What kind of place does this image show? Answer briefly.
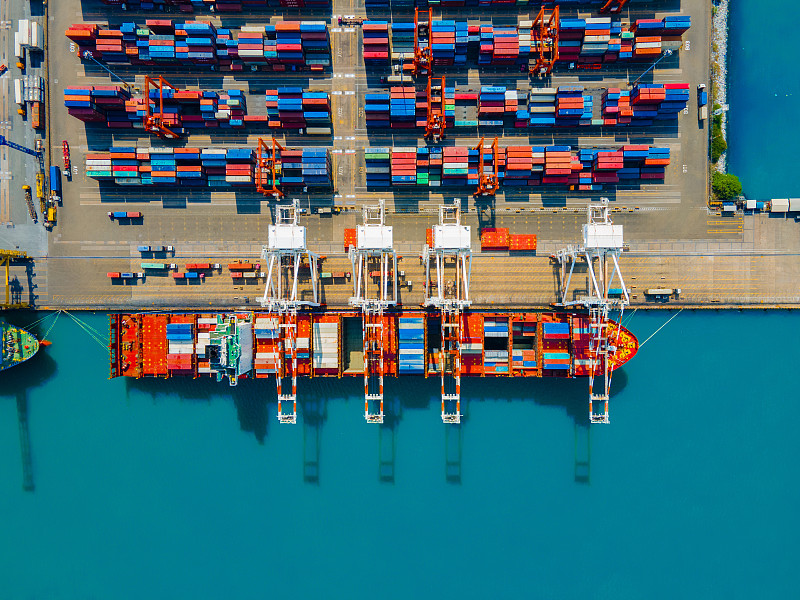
port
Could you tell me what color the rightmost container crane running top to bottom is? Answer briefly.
white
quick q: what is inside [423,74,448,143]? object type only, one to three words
crane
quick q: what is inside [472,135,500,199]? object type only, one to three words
crane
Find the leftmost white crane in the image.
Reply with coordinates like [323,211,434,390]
[255,199,323,423]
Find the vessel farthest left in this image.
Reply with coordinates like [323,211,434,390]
[0,320,52,371]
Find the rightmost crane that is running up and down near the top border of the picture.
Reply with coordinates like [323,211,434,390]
[528,4,559,77]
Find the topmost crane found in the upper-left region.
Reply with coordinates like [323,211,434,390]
[144,74,181,143]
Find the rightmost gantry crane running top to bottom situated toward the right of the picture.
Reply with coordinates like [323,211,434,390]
[550,198,633,423]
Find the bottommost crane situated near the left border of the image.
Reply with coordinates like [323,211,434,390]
[0,250,38,308]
